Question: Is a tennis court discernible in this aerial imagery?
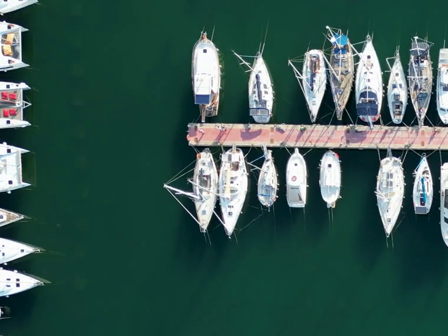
No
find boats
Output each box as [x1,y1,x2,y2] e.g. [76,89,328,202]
[406,35,435,132]
[193,141,251,246]
[0,207,34,230]
[0,0,42,17]
[438,161,448,242]
[253,146,281,215]
[323,22,356,128]
[0,238,42,264]
[353,26,385,129]
[240,44,274,131]
[319,146,345,218]
[375,151,406,242]
[0,21,52,77]
[0,80,49,133]
[386,41,408,130]
[411,147,435,230]
[0,269,61,297]
[293,33,329,131]
[434,44,448,130]
[283,147,309,216]
[0,143,38,195]
[191,27,222,123]
[171,143,220,244]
